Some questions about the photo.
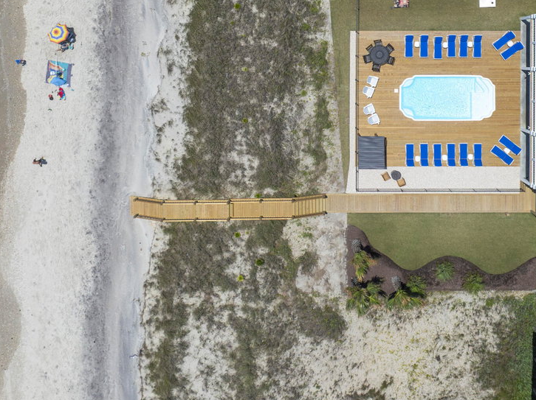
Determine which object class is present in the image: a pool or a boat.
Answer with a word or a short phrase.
pool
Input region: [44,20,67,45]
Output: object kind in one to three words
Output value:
umbrella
